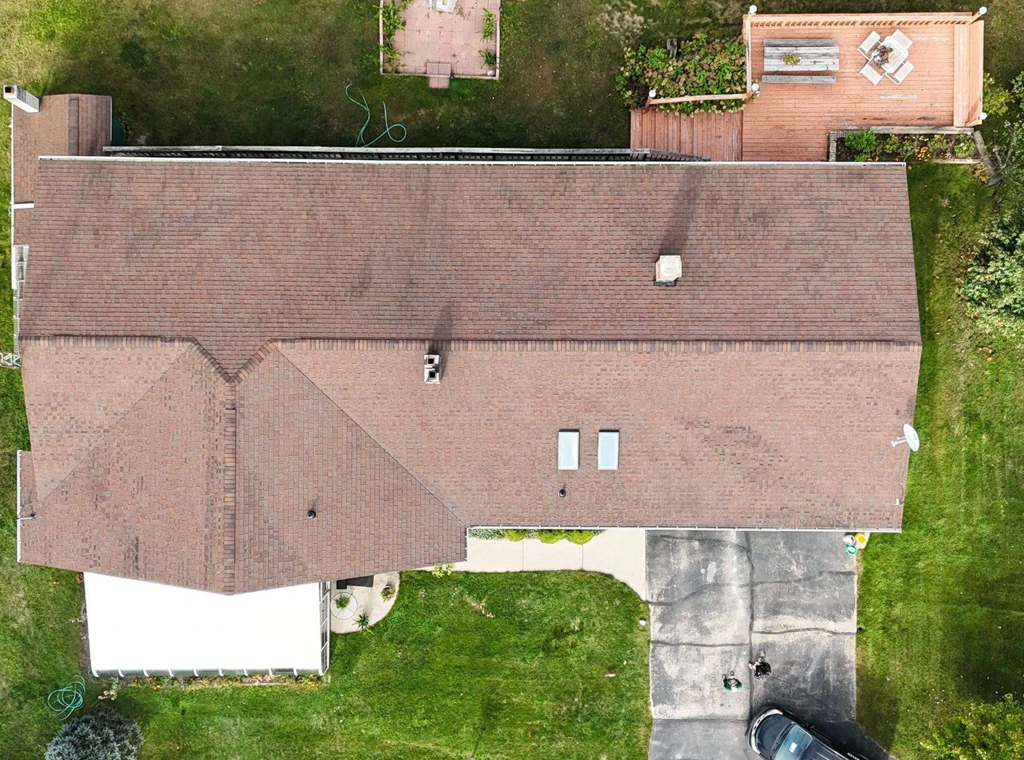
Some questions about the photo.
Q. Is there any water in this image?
No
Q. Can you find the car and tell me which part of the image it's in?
bottom right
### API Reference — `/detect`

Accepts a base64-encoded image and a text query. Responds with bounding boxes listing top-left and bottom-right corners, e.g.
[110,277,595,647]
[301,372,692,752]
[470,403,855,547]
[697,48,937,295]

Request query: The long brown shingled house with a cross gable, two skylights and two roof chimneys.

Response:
[16,155,923,596]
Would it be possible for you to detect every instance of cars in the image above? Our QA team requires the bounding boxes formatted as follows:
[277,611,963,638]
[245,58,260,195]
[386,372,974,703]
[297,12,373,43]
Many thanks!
[745,703,887,760]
